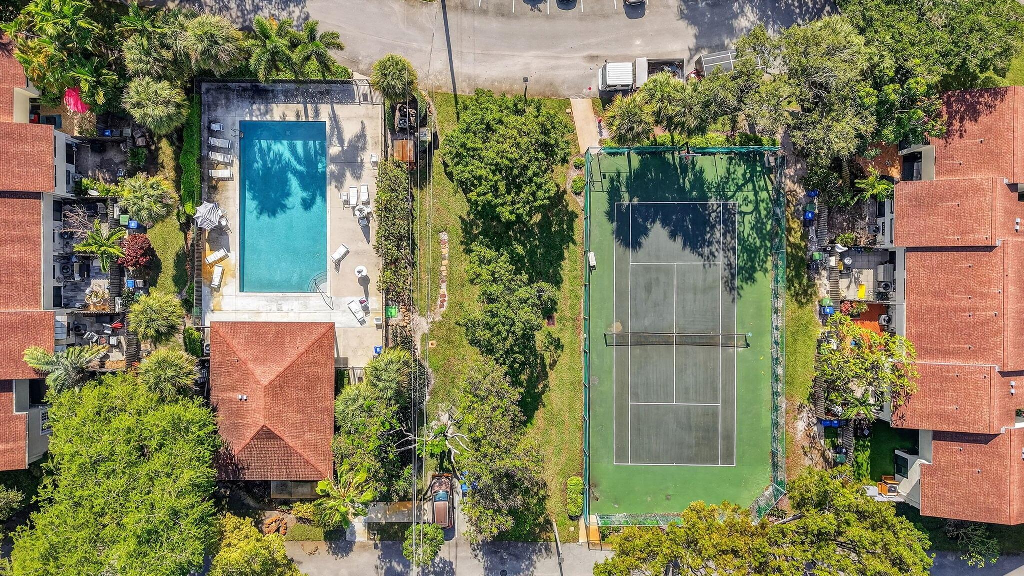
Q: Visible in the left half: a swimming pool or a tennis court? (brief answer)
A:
swimming pool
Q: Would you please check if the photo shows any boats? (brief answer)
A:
No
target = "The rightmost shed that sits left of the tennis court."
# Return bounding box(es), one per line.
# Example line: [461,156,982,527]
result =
[394,139,417,165]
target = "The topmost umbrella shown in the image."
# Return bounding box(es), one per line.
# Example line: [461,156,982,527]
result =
[195,201,226,232]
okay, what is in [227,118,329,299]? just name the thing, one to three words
swimming pool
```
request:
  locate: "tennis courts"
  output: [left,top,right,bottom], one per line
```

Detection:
[589,153,771,515]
